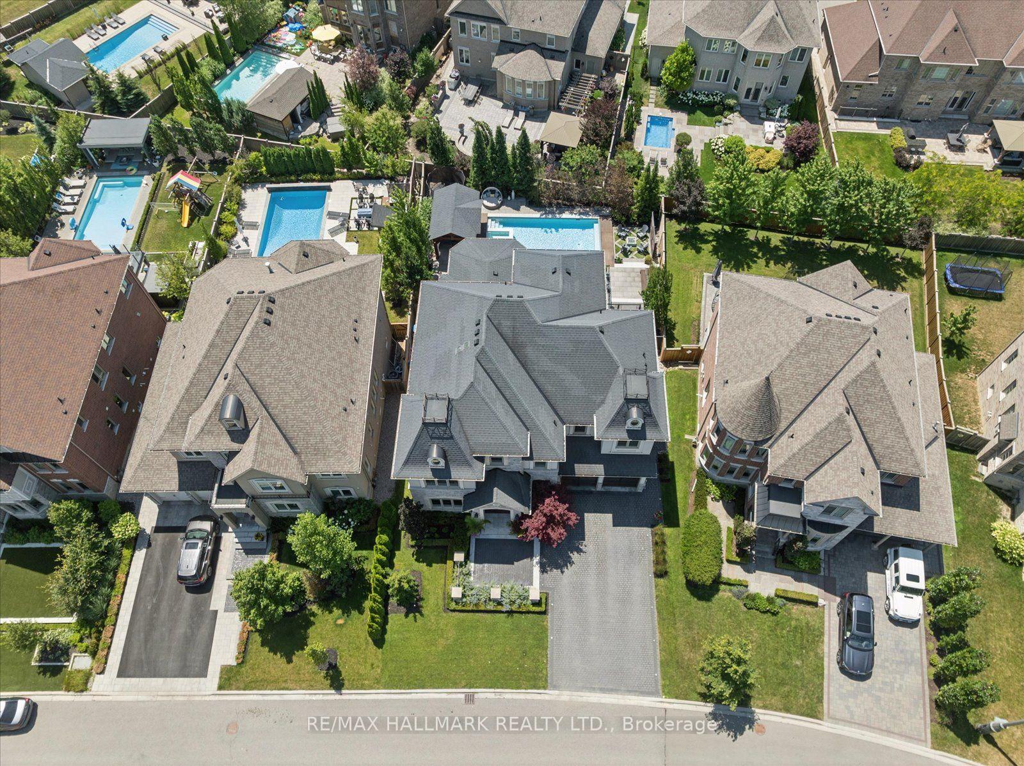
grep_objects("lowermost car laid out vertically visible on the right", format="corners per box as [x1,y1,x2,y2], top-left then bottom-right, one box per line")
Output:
[838,594,882,682]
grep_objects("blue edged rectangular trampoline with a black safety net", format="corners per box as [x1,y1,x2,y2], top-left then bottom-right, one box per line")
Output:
[941,250,1015,299]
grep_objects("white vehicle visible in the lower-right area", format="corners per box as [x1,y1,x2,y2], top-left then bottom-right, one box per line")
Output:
[886,545,931,627]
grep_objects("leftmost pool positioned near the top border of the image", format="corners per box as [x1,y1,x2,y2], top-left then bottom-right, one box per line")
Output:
[80,11,183,78]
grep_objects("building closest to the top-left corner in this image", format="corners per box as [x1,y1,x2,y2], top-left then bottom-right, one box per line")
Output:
[6,38,98,112]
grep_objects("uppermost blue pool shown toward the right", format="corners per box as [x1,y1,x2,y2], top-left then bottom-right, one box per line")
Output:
[641,113,676,150]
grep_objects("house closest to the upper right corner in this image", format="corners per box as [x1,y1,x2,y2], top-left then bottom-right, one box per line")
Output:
[817,0,1024,124]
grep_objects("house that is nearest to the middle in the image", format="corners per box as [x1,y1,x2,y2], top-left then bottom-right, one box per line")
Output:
[389,237,671,526]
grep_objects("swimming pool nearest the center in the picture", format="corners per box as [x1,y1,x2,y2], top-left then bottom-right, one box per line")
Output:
[484,214,602,250]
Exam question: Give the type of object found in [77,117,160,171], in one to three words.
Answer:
building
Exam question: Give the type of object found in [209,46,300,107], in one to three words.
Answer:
swimming pool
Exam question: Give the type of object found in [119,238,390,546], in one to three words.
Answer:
house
